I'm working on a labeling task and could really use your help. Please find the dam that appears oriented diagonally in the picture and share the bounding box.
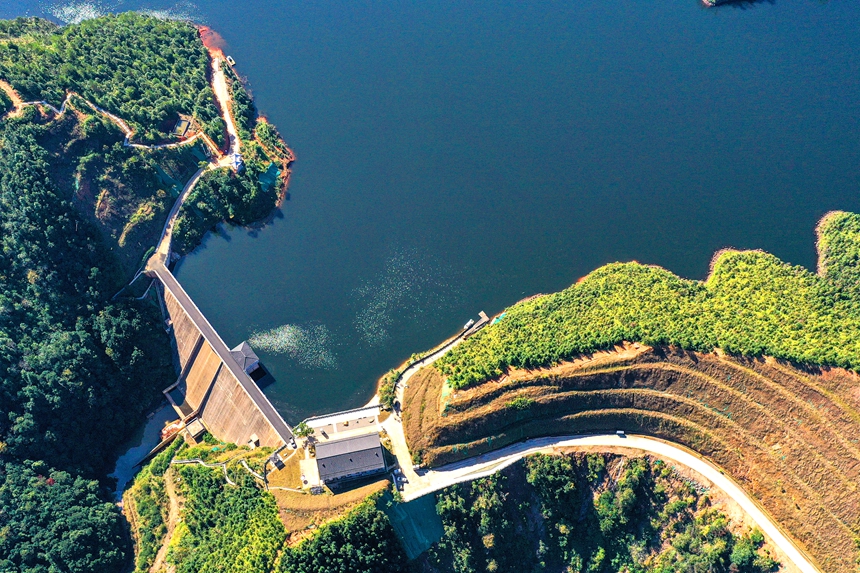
[154,263,295,450]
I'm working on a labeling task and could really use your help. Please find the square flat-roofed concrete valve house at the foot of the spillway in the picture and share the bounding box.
[186,418,211,441]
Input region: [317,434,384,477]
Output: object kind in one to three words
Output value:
building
